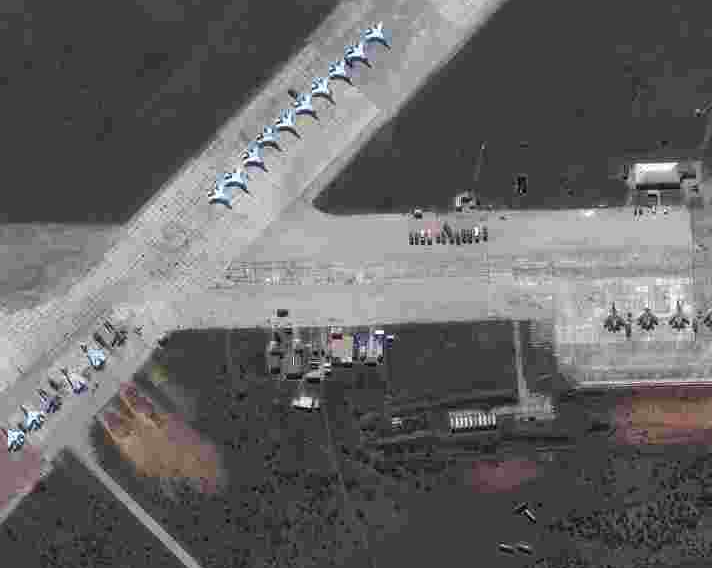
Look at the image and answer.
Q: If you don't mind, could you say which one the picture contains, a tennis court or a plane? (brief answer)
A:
plane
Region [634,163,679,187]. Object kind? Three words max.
hangar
